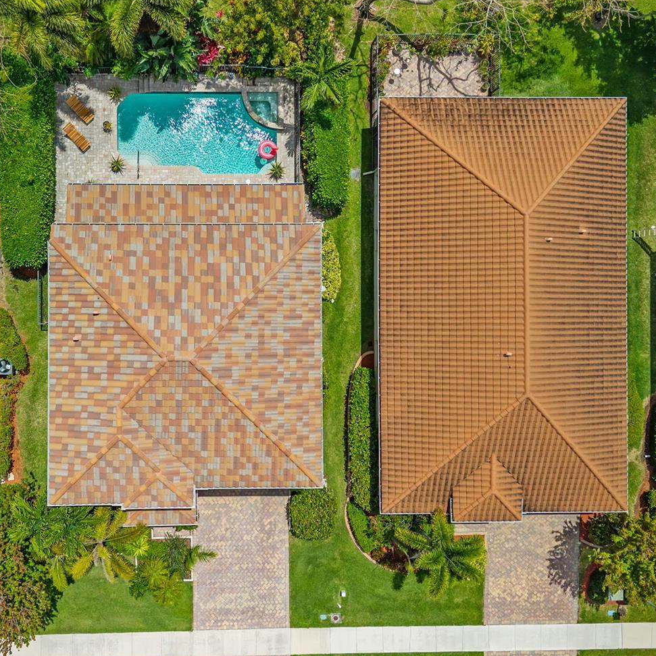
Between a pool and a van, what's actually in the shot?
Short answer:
pool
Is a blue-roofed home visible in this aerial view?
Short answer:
No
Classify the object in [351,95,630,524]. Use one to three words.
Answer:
house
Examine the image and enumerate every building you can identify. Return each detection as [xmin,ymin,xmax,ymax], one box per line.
[351,95,630,524]
[45,181,326,527]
